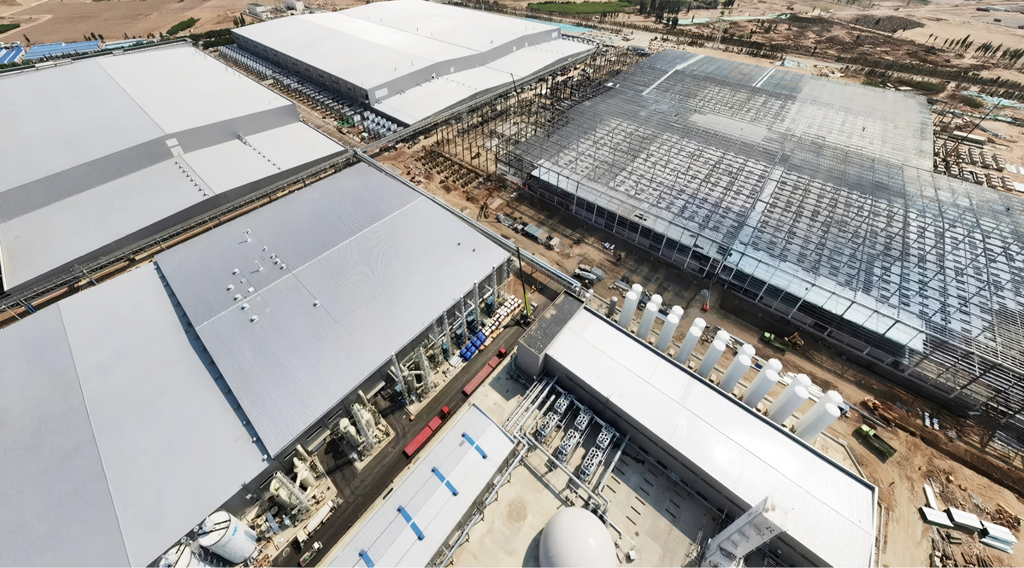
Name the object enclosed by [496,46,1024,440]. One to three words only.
building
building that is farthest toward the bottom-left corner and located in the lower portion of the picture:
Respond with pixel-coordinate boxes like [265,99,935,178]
[0,258,278,568]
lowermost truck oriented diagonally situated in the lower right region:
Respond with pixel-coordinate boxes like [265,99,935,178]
[863,425,910,461]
